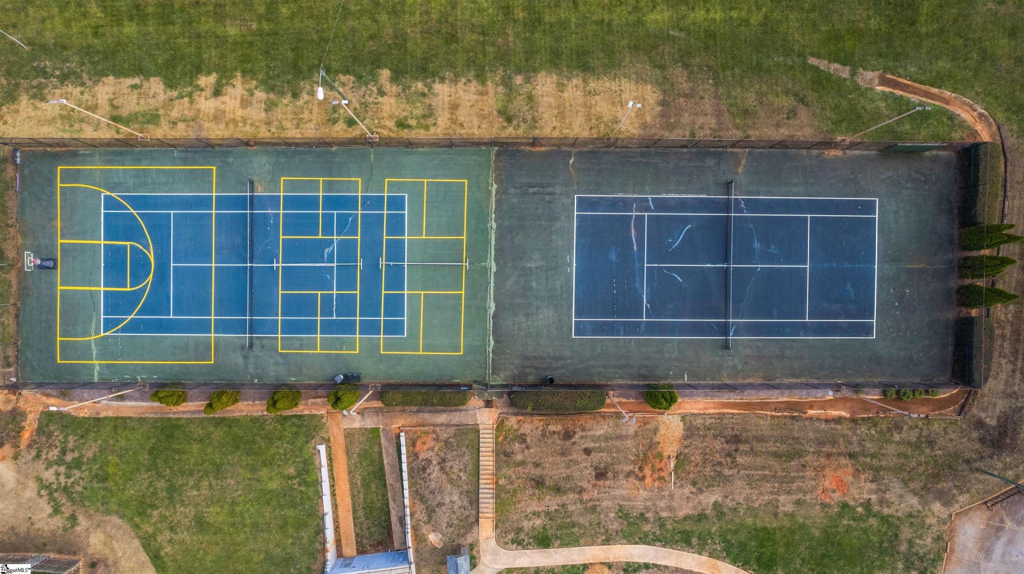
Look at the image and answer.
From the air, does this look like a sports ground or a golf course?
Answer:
sports ground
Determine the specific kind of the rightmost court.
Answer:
tennis court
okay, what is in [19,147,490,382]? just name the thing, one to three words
tennis court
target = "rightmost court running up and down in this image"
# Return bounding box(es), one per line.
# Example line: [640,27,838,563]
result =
[381,179,468,354]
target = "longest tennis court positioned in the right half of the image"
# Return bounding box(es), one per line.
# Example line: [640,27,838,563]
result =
[490,147,958,383]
